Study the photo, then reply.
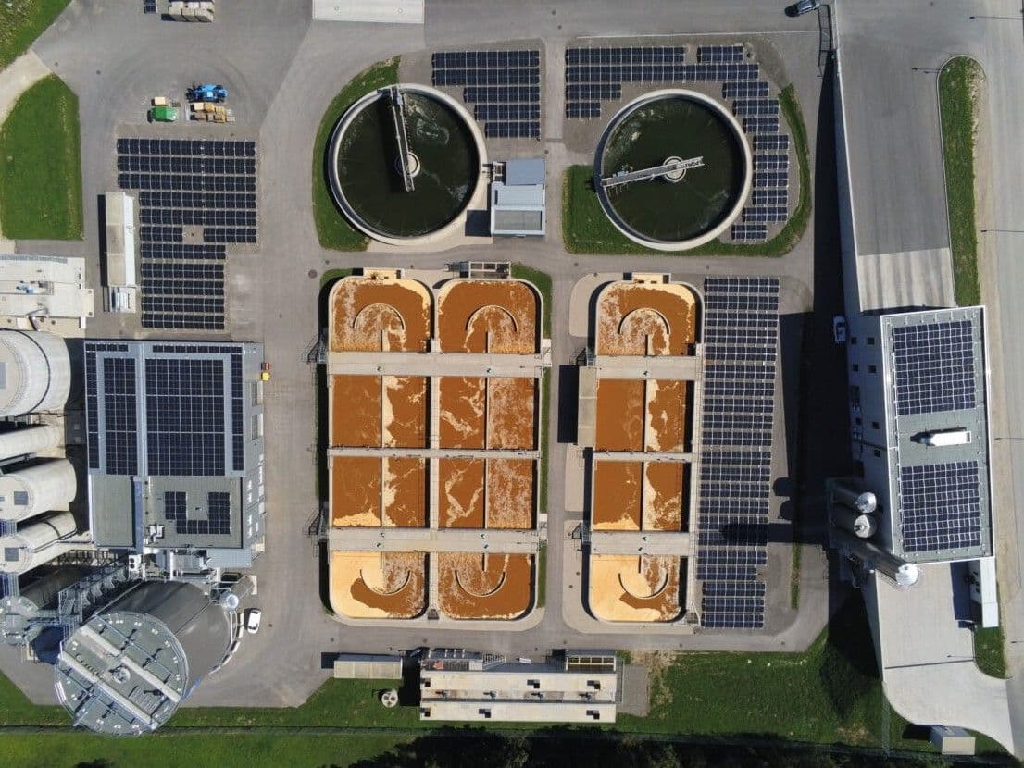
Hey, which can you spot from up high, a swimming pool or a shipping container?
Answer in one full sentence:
Of the two, only a shipping container appears.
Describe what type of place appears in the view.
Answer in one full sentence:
This looks like an industrial area.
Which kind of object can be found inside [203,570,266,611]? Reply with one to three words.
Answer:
silo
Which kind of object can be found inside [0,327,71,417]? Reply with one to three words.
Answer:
storage tank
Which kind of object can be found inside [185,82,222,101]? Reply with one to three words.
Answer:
work vehicle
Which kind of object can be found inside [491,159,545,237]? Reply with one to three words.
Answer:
building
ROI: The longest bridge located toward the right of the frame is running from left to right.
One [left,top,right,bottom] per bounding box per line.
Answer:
[600,155,704,186]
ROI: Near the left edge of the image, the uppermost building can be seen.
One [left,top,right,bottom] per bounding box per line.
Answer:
[0,253,100,318]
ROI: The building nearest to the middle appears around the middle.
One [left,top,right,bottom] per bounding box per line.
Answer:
[575,366,597,448]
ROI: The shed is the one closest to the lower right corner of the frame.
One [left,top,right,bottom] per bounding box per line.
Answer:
[928,724,976,755]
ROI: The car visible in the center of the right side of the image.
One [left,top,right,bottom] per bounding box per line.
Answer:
[832,315,847,344]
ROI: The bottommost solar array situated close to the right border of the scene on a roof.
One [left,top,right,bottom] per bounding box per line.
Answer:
[900,460,982,552]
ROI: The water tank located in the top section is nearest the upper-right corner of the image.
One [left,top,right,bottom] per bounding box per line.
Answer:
[592,88,754,253]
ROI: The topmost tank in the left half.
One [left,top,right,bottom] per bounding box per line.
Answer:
[327,82,488,246]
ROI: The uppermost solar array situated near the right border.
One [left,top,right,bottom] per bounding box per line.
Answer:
[894,320,976,414]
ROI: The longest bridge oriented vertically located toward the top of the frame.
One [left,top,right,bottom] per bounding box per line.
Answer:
[391,85,414,191]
